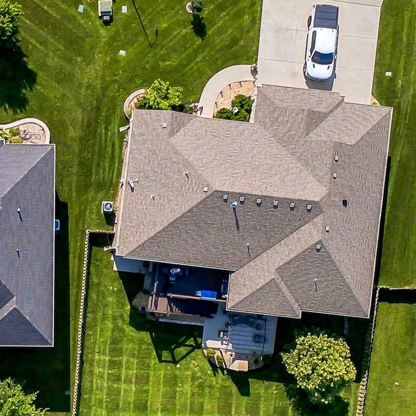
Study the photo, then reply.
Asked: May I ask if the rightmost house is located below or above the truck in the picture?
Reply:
below it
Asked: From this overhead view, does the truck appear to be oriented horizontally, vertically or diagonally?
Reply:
vertically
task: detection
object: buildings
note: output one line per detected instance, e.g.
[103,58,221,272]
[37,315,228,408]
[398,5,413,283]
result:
[100,82,396,320]
[0,140,56,348]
